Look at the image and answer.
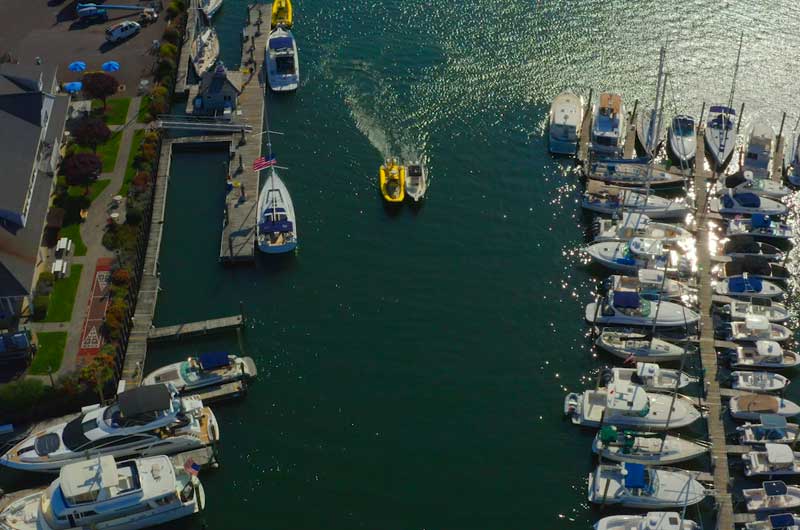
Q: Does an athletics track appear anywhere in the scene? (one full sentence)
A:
No, I can see no athletics track in this picture.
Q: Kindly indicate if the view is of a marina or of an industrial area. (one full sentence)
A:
What you see here is a marina.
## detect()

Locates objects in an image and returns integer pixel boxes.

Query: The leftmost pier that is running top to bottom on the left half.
[127,141,174,383]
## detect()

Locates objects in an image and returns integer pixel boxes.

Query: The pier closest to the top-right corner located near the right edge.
[770,127,788,184]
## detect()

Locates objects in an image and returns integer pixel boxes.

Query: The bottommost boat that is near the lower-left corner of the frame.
[0,436,209,530]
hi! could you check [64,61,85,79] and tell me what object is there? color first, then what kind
blue umbrella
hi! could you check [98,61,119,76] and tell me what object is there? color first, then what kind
blue umbrella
